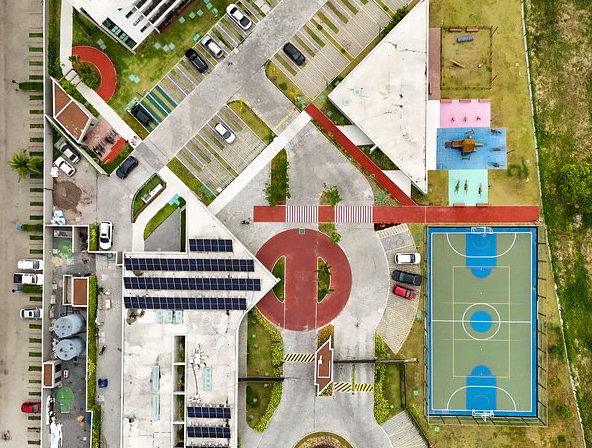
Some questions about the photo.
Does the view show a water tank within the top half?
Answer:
No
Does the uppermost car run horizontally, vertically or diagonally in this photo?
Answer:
diagonally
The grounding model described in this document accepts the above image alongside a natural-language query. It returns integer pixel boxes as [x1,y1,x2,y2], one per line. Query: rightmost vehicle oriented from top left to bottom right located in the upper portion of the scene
[281,40,308,67]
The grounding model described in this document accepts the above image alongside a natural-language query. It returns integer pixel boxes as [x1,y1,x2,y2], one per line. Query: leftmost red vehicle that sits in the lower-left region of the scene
[20,399,42,414]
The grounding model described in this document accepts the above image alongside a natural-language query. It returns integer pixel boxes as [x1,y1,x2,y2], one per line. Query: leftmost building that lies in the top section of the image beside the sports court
[328,0,429,194]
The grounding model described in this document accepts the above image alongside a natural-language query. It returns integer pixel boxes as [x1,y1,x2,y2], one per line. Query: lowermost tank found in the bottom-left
[59,331,88,359]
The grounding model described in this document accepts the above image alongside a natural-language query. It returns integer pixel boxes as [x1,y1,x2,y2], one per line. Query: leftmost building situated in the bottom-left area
[43,359,62,387]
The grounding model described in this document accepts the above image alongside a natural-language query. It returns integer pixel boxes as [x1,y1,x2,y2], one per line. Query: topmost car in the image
[226,3,253,32]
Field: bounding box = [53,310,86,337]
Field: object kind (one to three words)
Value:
water tank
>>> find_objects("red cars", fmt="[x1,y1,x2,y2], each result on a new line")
[20,399,42,414]
[391,284,418,300]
